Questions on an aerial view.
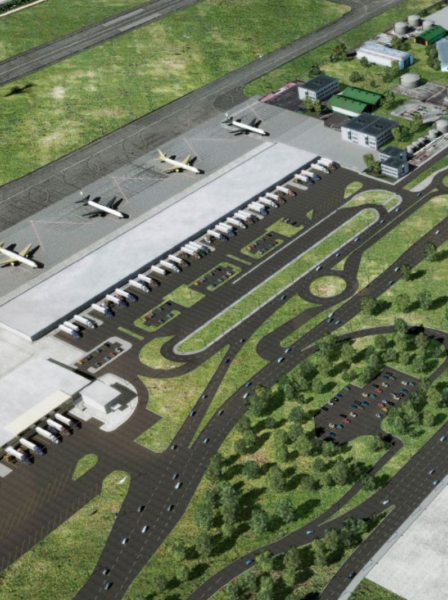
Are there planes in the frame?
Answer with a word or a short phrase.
Yes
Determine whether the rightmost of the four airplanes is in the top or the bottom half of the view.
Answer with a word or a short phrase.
top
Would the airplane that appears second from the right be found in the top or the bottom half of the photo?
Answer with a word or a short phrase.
top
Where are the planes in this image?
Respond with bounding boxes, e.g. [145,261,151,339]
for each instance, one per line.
[152,143,200,174]
[0,239,38,269]
[220,104,269,136]
[76,186,124,218]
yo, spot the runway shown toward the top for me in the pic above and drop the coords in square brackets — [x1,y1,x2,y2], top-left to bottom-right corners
[0,0,199,85]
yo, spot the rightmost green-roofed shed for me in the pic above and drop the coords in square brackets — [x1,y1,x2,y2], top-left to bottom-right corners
[412,26,448,46]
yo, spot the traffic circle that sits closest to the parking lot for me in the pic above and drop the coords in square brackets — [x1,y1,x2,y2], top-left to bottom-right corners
[309,276,347,297]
